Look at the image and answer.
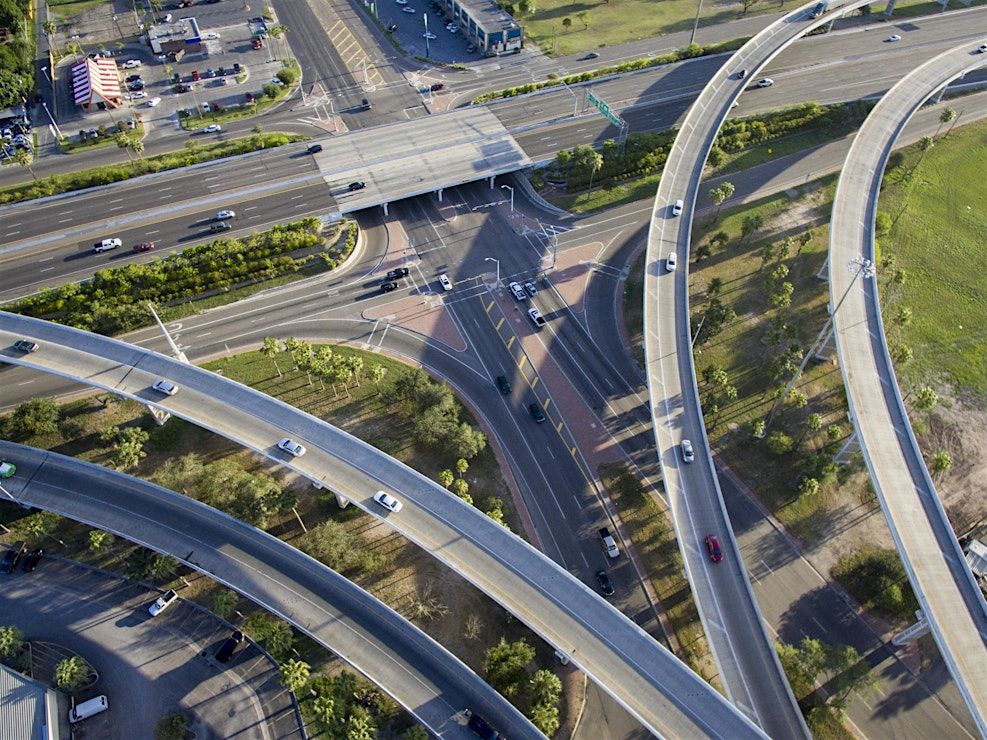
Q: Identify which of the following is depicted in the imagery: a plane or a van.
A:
van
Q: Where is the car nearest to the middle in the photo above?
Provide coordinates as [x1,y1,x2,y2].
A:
[495,374,512,394]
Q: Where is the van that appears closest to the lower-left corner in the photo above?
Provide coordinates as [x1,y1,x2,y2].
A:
[67,694,108,723]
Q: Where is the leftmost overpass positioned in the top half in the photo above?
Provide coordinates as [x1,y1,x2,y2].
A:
[305,106,536,222]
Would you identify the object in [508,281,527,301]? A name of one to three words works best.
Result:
vehicle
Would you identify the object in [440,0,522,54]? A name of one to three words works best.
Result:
building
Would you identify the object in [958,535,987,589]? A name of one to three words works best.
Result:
shed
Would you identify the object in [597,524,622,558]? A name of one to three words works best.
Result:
truck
